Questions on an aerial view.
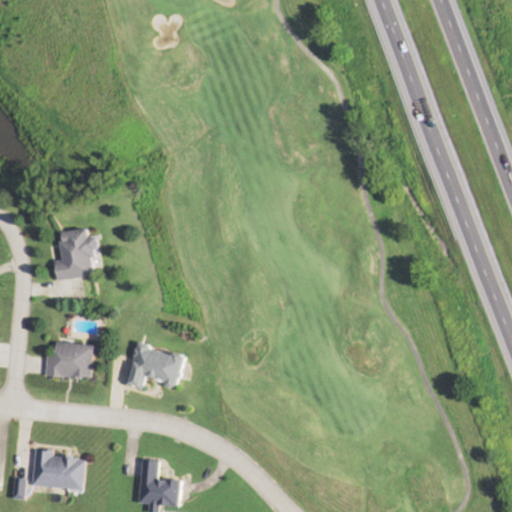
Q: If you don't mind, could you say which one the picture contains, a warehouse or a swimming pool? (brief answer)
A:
swimming pool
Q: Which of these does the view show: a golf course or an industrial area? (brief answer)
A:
golf course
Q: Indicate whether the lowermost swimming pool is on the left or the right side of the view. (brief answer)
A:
left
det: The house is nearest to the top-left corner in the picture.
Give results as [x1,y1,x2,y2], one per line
[56,226,104,280]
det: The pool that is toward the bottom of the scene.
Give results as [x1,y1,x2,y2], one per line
[66,315,106,341]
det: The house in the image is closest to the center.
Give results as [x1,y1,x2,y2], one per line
[128,340,190,391]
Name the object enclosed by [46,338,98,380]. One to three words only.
house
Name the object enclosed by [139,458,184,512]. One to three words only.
house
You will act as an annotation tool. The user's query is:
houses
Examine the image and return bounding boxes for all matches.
[56,226,104,280]
[139,458,184,512]
[46,338,98,380]
[35,449,94,496]
[128,340,190,391]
